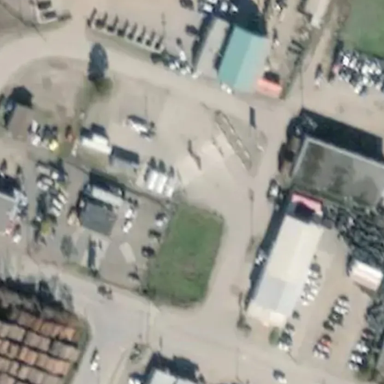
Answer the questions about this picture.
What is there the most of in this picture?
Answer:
paved ground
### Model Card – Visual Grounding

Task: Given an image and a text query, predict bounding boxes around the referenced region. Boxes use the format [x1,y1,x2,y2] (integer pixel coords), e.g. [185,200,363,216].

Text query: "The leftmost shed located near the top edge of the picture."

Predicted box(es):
[191,17,231,80]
